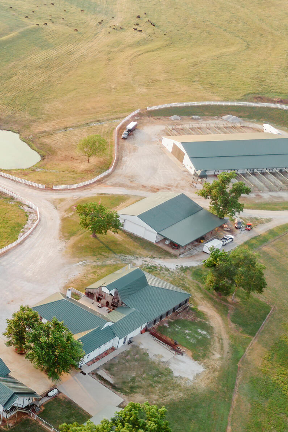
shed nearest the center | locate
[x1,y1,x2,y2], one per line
[116,191,227,258]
